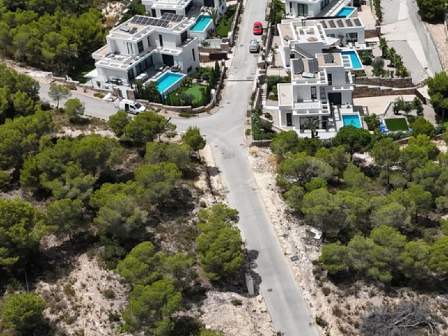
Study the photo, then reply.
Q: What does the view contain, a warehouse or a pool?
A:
pool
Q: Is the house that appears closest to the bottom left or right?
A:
right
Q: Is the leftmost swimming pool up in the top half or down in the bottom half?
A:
top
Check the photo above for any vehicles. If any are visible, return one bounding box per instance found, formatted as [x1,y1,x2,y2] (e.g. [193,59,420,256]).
[252,24,263,34]
[248,41,259,52]
[110,95,144,115]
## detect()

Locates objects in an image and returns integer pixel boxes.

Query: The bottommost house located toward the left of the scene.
[84,12,205,92]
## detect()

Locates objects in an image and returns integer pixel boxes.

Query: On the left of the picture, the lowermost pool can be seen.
[152,71,187,92]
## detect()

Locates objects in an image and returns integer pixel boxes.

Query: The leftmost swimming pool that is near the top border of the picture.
[192,14,214,34]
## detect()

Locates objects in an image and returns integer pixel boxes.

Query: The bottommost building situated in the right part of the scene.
[278,53,354,134]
